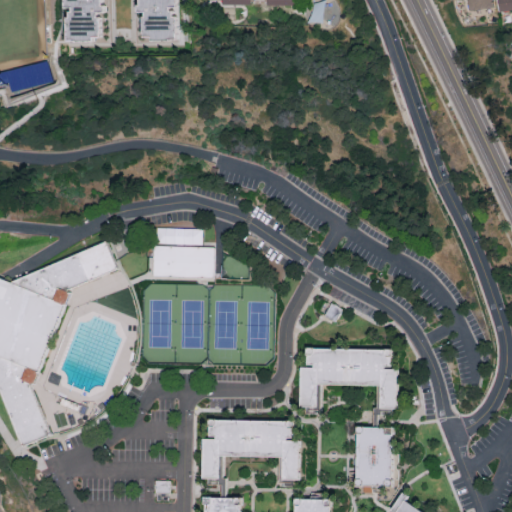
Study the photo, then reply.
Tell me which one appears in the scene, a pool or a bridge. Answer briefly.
pool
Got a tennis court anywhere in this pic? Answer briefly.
Yes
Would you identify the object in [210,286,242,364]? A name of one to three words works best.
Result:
tennis court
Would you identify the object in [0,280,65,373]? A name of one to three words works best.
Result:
building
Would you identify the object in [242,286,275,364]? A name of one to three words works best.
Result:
tennis court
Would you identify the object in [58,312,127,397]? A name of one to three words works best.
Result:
swimming pool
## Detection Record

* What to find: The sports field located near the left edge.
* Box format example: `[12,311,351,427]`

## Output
[0,0,47,72]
